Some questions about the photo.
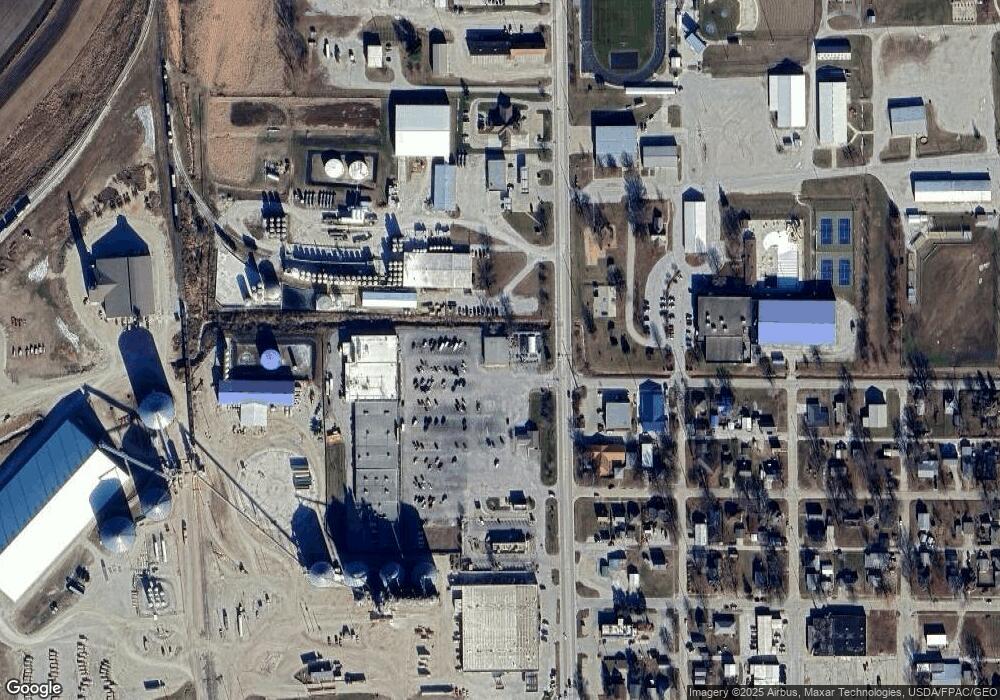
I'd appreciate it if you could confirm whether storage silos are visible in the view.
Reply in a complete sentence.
Yes, there's a storage silo here.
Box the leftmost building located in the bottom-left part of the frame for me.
[0,418,130,602]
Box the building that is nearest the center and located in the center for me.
[484,338,509,366]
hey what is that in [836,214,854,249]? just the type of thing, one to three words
tennis court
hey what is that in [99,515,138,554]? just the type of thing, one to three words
silo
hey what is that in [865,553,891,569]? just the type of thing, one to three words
house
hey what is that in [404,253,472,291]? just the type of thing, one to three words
building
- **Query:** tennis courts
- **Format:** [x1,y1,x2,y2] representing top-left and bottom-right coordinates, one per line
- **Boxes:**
[817,255,836,290]
[836,214,854,249]
[836,255,854,290]
[817,214,836,249]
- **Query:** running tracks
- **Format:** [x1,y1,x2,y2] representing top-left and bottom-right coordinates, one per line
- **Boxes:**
[580,0,668,84]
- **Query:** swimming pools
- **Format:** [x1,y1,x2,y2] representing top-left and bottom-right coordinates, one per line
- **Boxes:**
[748,220,803,286]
